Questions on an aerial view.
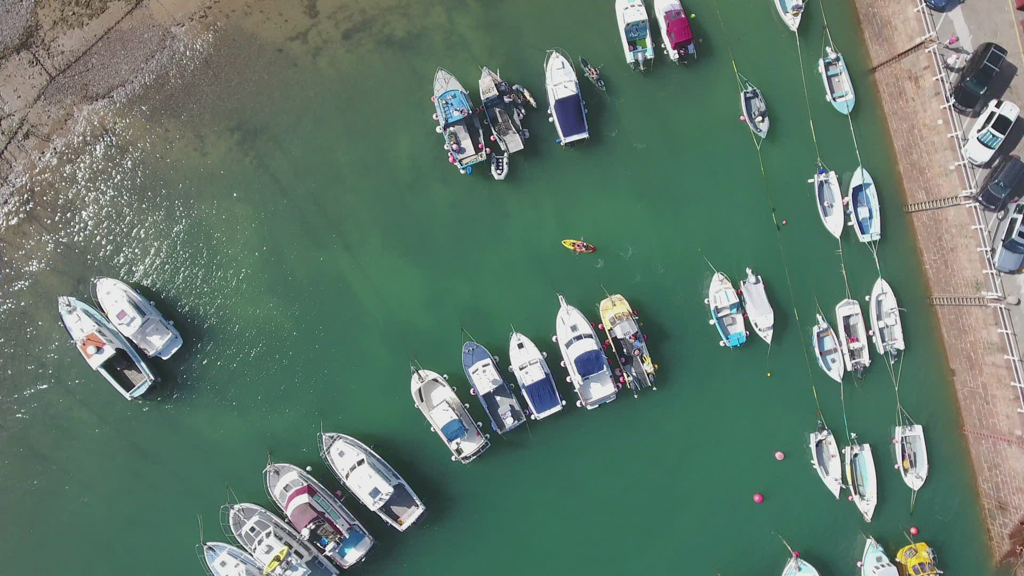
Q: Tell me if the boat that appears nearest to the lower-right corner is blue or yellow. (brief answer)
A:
yellow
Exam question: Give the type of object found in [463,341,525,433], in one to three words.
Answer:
boat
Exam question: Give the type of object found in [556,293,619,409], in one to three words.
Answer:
boat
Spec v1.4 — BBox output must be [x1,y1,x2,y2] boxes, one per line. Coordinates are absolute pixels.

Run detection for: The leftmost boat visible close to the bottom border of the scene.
[196,540,269,576]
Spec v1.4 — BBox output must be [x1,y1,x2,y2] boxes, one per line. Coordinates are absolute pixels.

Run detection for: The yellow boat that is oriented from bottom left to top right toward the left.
[263,546,288,575]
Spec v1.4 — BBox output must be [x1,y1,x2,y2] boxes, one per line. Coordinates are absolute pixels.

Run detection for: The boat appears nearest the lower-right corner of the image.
[895,540,944,576]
